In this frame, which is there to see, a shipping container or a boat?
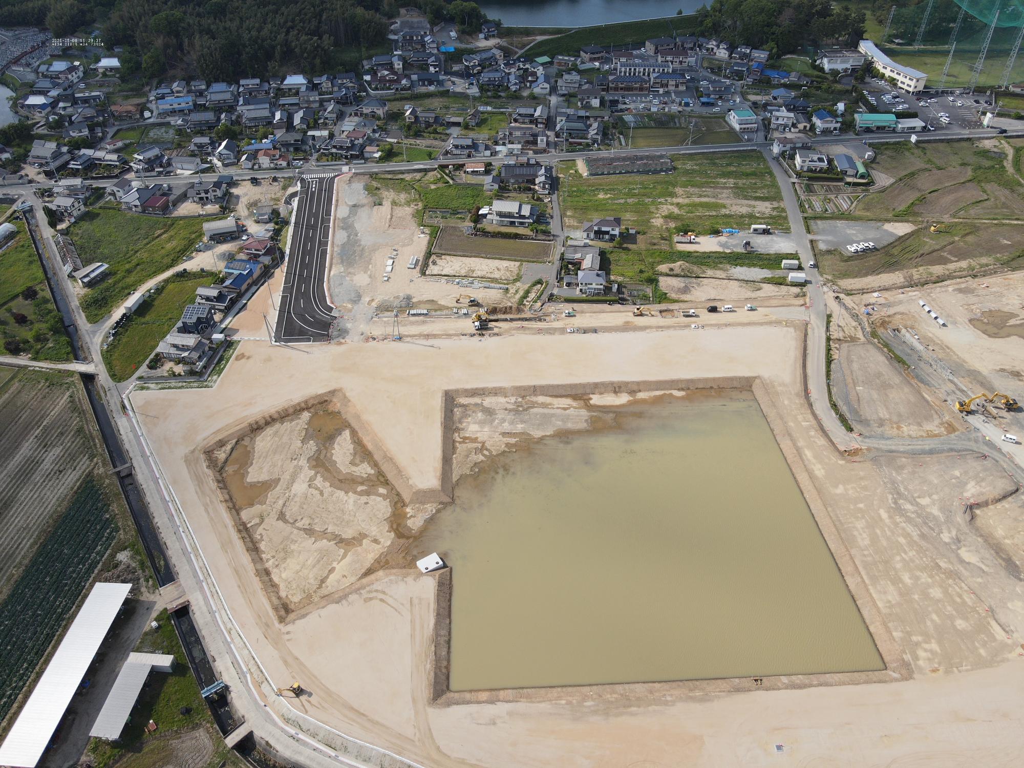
shipping container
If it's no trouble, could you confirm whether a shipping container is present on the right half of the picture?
No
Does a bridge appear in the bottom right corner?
No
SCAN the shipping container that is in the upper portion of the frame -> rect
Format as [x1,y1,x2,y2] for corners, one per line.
[122,288,161,313]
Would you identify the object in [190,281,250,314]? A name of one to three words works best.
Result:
house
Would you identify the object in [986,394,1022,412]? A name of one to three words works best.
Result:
work vehicle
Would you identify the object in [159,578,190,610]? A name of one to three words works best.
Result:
bridge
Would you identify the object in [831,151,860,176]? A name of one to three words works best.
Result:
building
